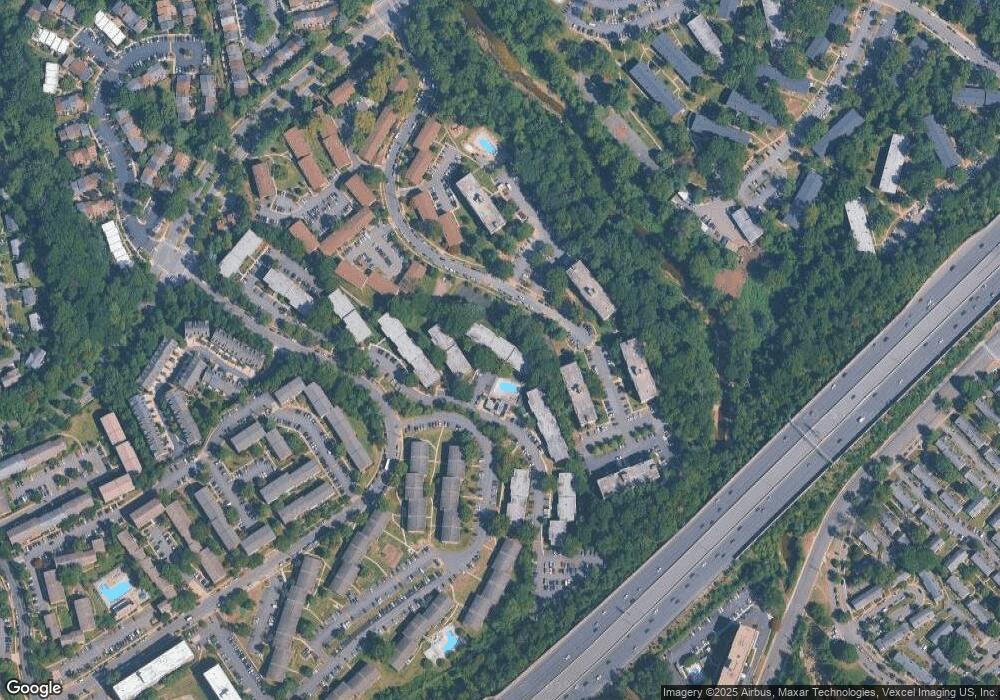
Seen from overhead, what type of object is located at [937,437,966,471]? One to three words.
house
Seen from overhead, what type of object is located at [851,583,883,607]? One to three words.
house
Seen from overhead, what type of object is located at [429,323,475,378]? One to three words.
building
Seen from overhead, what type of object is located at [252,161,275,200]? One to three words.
building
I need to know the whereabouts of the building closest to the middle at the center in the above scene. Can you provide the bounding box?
[467,322,523,370]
